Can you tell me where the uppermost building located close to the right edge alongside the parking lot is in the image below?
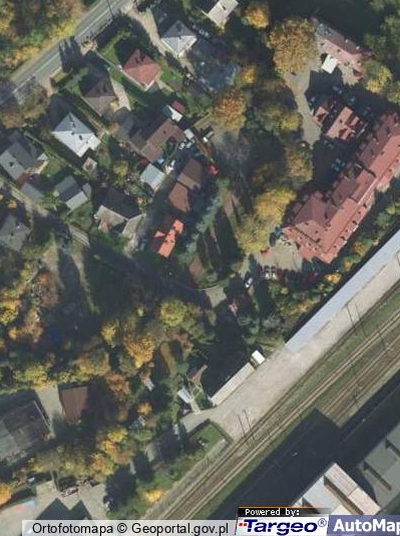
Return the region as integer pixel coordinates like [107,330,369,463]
[284,105,400,267]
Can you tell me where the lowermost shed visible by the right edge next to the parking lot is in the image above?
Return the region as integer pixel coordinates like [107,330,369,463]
[284,233,400,352]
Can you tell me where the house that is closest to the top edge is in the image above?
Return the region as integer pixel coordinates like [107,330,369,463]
[208,0,240,27]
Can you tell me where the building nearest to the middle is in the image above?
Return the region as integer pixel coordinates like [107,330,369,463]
[150,215,185,259]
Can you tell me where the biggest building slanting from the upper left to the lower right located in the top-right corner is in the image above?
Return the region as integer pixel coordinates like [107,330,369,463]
[304,18,371,76]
